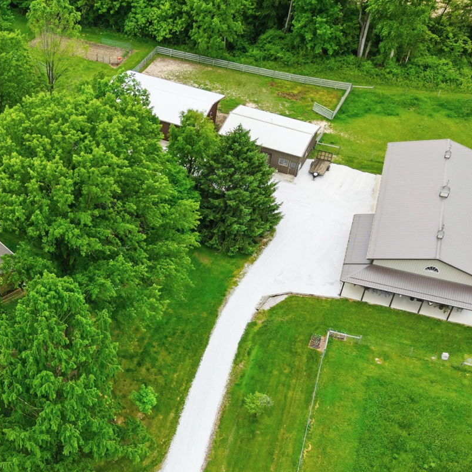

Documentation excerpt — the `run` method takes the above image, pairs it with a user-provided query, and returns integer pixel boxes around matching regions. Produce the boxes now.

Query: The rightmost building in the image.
[339,138,472,326]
